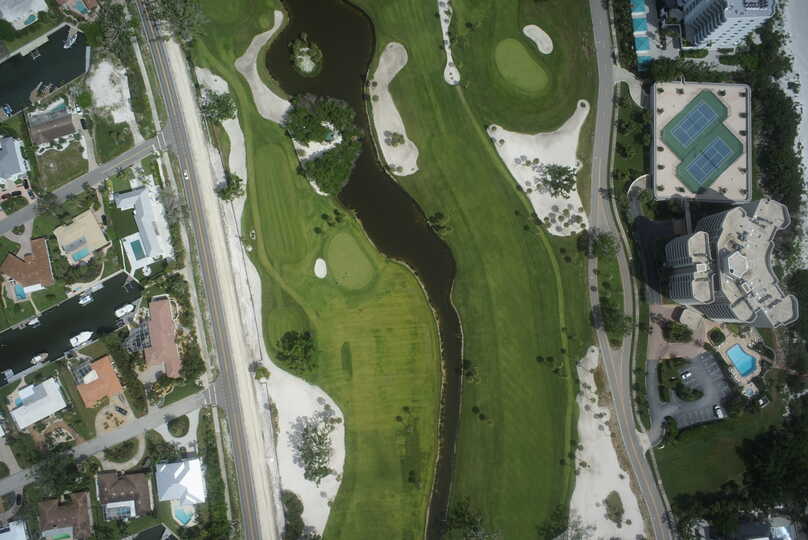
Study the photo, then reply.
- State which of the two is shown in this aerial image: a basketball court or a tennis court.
tennis court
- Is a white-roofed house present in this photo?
Yes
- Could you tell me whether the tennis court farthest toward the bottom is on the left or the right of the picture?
right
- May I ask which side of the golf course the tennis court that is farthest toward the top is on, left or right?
to the right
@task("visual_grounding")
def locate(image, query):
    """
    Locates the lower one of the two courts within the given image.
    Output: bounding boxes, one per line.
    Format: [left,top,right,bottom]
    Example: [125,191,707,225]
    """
[686,137,734,184]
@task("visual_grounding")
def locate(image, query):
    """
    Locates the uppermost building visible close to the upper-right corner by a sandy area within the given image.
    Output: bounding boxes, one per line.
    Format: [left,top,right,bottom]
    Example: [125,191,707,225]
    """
[685,0,779,44]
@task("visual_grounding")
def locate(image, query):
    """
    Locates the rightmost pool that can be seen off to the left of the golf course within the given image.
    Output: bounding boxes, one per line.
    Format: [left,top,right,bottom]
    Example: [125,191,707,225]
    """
[174,508,194,526]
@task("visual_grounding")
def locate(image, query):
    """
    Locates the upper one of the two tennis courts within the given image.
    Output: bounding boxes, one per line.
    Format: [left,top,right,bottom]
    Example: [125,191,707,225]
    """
[671,100,717,148]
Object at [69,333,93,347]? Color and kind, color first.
white boat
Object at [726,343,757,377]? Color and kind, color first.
blue swimming pool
